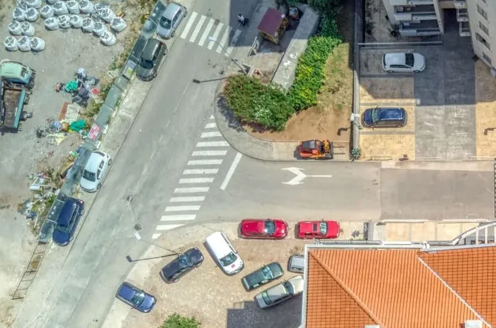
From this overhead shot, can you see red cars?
Yes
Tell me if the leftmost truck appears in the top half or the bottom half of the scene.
top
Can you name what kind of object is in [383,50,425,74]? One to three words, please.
car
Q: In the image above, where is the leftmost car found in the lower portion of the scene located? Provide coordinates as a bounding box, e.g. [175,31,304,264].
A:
[53,200,88,245]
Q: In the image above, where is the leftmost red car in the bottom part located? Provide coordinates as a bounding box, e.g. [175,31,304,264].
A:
[240,217,289,239]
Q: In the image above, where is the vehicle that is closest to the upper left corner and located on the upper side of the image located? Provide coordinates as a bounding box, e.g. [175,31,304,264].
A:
[0,67,36,131]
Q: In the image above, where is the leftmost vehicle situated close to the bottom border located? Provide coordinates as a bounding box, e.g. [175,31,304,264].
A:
[112,279,160,314]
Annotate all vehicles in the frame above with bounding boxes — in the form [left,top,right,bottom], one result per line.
[157,245,207,285]
[297,138,337,158]
[239,263,286,293]
[202,230,243,276]
[53,200,88,245]
[112,279,160,314]
[157,3,190,38]
[285,252,303,272]
[363,105,407,127]
[0,67,36,131]
[240,217,289,239]
[81,151,113,190]
[383,50,425,74]
[135,39,169,80]
[297,219,341,239]
[254,275,302,311]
